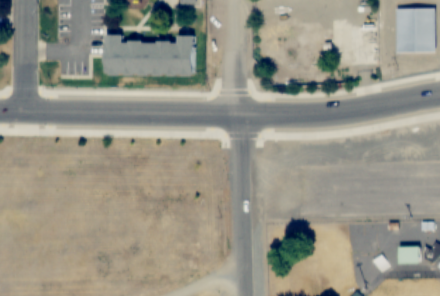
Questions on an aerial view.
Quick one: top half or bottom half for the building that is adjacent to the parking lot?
top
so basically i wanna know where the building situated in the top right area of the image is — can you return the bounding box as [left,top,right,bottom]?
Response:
[396,8,438,52]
